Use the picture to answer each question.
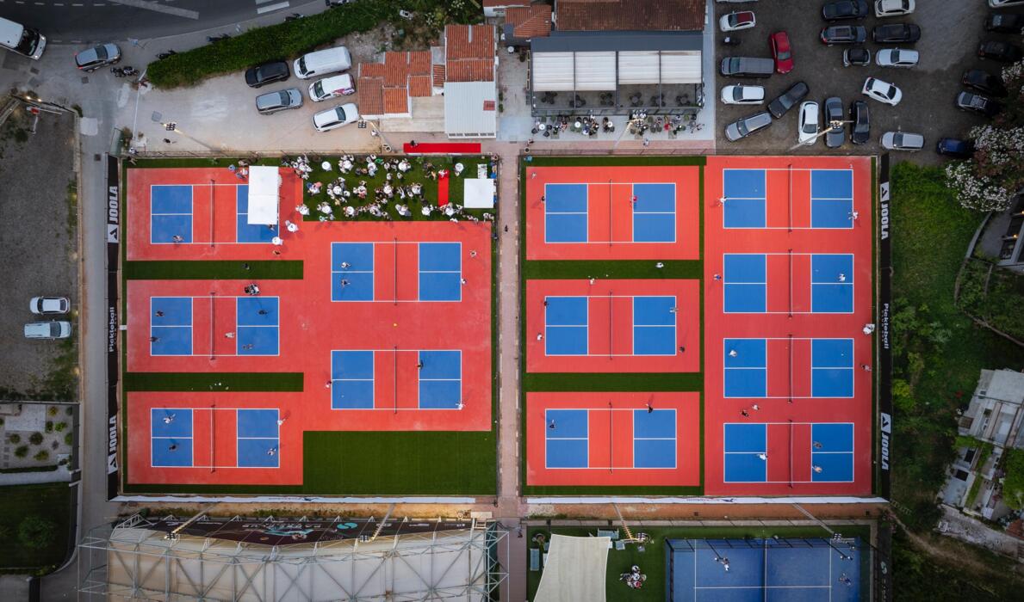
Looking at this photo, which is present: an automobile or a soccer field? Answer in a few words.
automobile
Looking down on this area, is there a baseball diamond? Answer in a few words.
No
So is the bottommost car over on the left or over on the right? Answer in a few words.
left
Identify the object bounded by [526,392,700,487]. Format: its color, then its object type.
red sports court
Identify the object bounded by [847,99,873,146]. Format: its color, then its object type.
black car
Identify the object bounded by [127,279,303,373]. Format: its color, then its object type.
red sports court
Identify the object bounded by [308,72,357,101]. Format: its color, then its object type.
white van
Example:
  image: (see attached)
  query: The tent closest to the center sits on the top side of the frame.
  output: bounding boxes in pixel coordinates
[465,179,494,211]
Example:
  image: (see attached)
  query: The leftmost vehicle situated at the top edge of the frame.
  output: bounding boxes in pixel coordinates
[0,20,49,57]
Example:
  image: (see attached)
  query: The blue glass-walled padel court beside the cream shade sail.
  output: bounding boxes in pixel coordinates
[666,539,878,602]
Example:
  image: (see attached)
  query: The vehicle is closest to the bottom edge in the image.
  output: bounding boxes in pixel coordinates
[20,319,73,341]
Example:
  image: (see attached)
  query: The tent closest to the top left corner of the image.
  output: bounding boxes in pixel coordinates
[247,166,288,227]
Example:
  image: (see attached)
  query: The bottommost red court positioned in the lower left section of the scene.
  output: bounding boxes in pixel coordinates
[127,391,303,485]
